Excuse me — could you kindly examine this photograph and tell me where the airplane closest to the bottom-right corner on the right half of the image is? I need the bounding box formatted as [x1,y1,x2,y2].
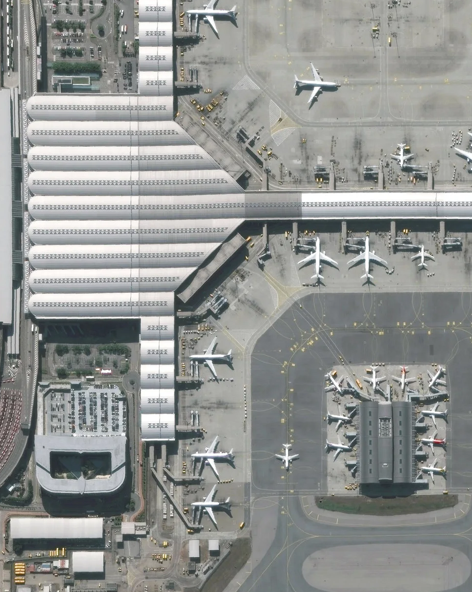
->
[422,460,447,481]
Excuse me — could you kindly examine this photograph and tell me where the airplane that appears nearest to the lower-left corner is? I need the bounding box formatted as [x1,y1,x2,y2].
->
[191,482,232,523]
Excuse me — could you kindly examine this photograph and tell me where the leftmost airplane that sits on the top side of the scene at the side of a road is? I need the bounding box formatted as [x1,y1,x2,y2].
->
[186,0,237,33]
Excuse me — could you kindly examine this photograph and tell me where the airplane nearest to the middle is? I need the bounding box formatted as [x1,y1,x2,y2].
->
[190,334,233,376]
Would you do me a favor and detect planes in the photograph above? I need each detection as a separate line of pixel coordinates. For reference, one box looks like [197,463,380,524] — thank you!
[423,402,448,426]
[325,434,353,458]
[413,246,433,267]
[275,444,299,470]
[186,0,237,33]
[192,432,234,475]
[391,365,415,393]
[326,406,351,428]
[292,62,336,103]
[191,482,232,523]
[296,238,337,279]
[345,236,387,279]
[324,371,342,394]
[363,366,385,391]
[422,431,446,452]
[190,334,233,376]
[428,366,446,388]
[422,460,447,481]
[391,143,411,167]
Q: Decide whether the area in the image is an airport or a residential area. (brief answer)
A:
airport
